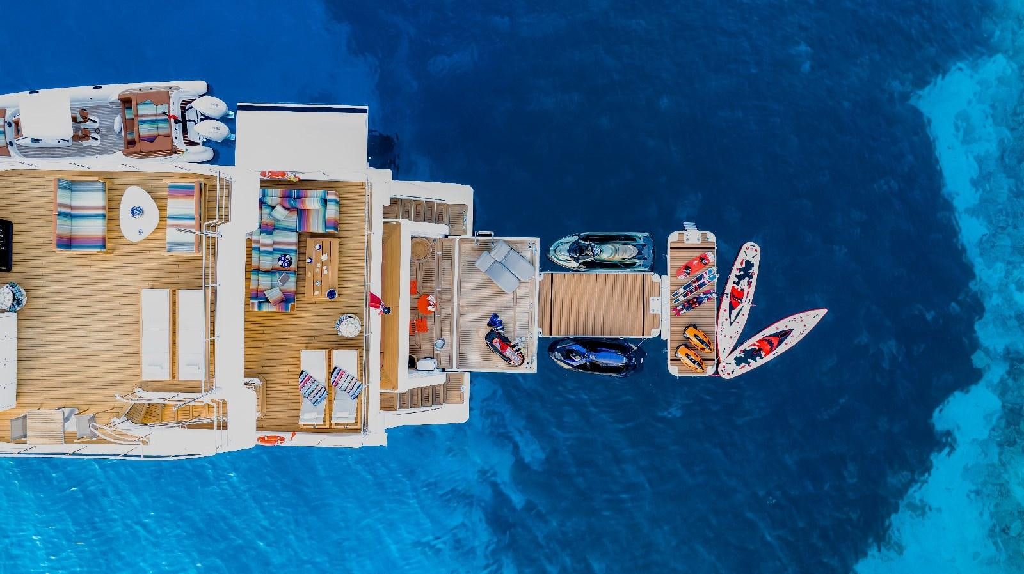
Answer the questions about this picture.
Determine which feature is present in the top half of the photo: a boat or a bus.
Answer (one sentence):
It is a boat that can be seen in the top half of the photo.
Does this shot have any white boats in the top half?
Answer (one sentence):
Yes, a white boat appears in the top half.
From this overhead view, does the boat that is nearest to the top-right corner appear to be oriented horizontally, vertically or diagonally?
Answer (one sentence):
I'd say the boat that is nearest to the top-right corner is aligned horizontally in the picture.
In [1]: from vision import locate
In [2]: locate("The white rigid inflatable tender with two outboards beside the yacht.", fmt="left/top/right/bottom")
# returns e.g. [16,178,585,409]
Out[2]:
[0,79,237,163]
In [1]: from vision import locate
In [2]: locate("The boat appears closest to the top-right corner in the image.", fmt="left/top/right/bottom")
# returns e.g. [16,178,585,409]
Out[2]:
[546,233,655,270]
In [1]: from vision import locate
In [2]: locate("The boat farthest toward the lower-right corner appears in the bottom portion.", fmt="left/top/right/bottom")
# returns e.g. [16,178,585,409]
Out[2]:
[547,337,648,376]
